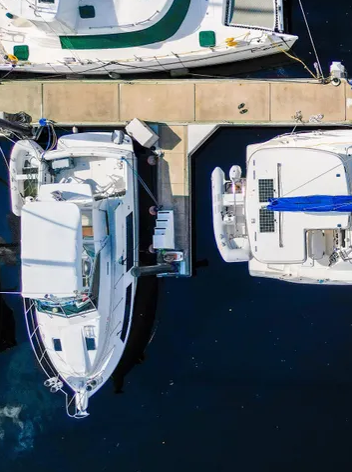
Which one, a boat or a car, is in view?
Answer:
boat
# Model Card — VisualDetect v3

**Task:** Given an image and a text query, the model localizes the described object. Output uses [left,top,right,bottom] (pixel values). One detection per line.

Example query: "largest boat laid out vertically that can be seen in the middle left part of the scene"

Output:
[21,134,141,427]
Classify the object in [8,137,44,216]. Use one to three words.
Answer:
boat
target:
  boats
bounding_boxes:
[21,134,141,427]
[233,128,352,285]
[0,0,299,72]
[214,161,250,263]
[8,137,44,216]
